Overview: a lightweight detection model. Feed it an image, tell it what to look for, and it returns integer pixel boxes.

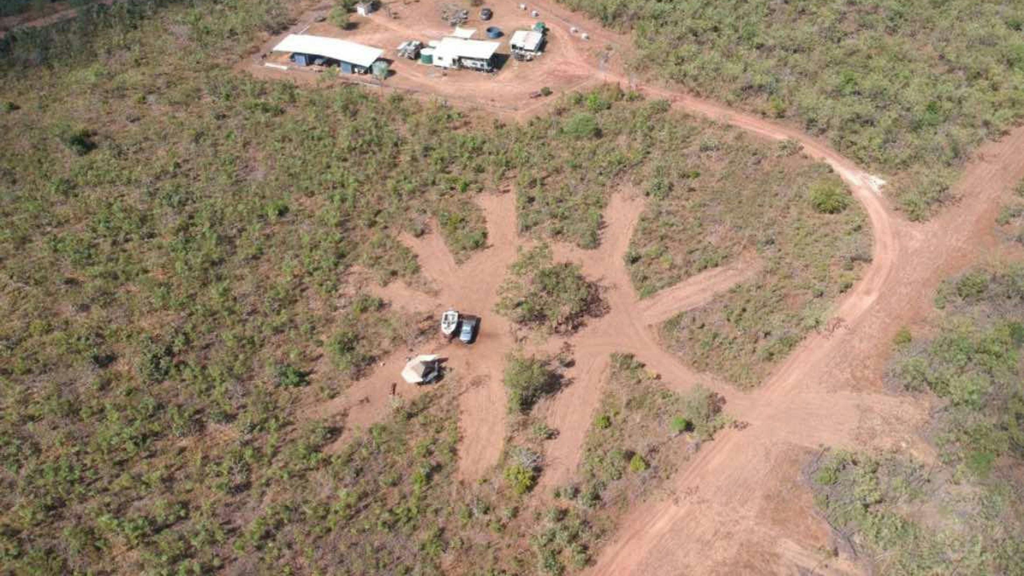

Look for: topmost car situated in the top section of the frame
[479,8,491,21]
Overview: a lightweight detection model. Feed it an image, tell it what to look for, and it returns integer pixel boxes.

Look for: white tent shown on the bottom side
[401,353,449,383]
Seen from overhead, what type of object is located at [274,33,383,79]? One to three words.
shed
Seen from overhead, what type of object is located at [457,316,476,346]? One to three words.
vehicle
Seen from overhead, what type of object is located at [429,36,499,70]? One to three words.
house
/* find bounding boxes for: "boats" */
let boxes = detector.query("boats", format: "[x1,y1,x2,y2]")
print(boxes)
[443,309,458,336]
